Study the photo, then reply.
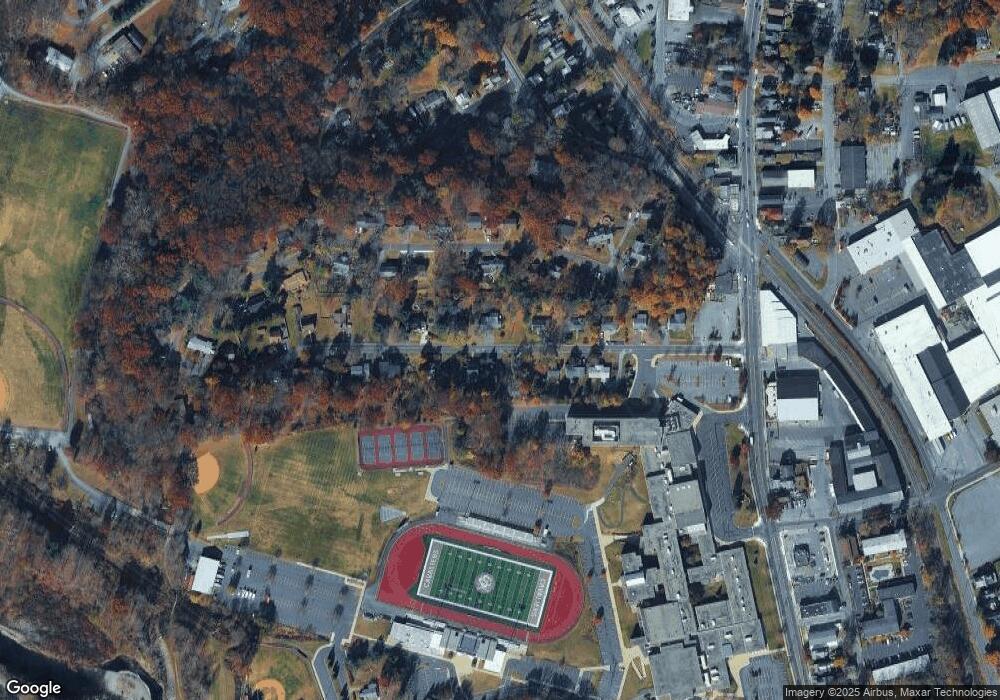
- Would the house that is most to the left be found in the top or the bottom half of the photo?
top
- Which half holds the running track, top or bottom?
bottom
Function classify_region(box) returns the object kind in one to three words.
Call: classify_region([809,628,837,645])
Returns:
house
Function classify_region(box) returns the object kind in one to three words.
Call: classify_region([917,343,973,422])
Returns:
shed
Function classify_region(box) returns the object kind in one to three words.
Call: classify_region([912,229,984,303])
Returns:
building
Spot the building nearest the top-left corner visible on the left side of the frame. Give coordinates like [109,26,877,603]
[46,48,74,70]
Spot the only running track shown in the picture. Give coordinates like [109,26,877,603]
[371,518,584,642]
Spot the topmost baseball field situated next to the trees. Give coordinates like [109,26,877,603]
[0,299,69,432]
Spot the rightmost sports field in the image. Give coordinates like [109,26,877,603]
[406,534,558,632]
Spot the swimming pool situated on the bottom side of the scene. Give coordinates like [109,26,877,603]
[870,563,894,582]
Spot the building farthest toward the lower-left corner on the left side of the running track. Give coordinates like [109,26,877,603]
[192,556,221,594]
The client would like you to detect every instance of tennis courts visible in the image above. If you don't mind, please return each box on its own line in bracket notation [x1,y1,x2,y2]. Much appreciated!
[426,431,440,459]
[378,434,393,463]
[361,436,376,464]
[394,433,408,461]
[409,432,425,460]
